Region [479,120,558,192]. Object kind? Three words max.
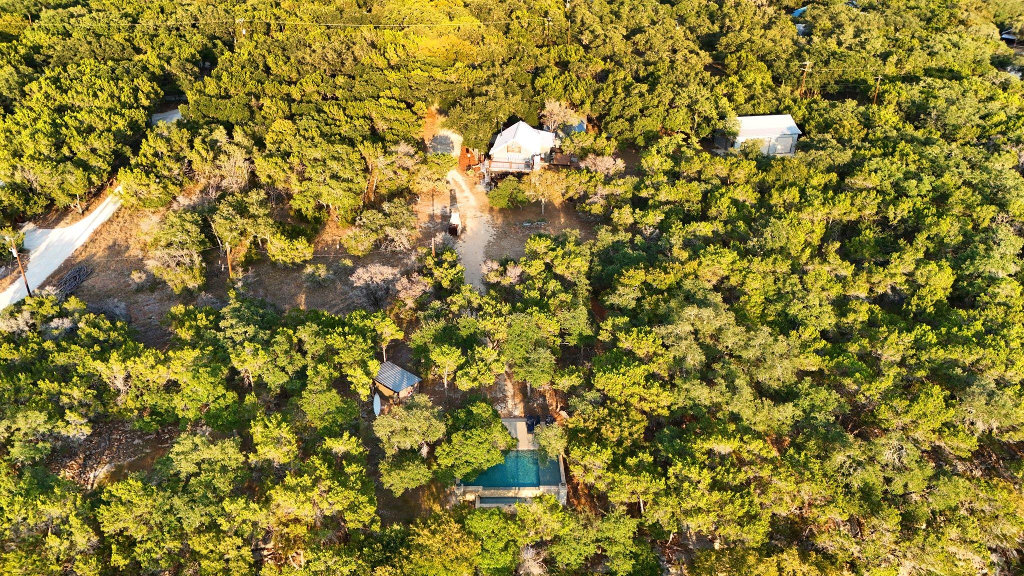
house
